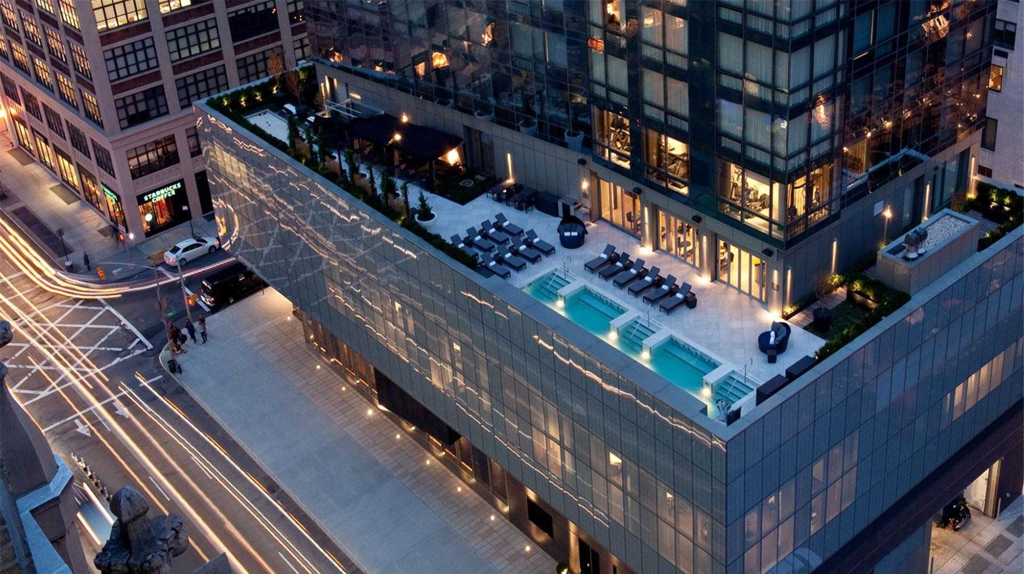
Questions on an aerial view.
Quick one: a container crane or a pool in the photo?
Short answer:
pool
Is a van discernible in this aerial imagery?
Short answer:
Yes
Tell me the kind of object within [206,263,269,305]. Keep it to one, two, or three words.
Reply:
van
